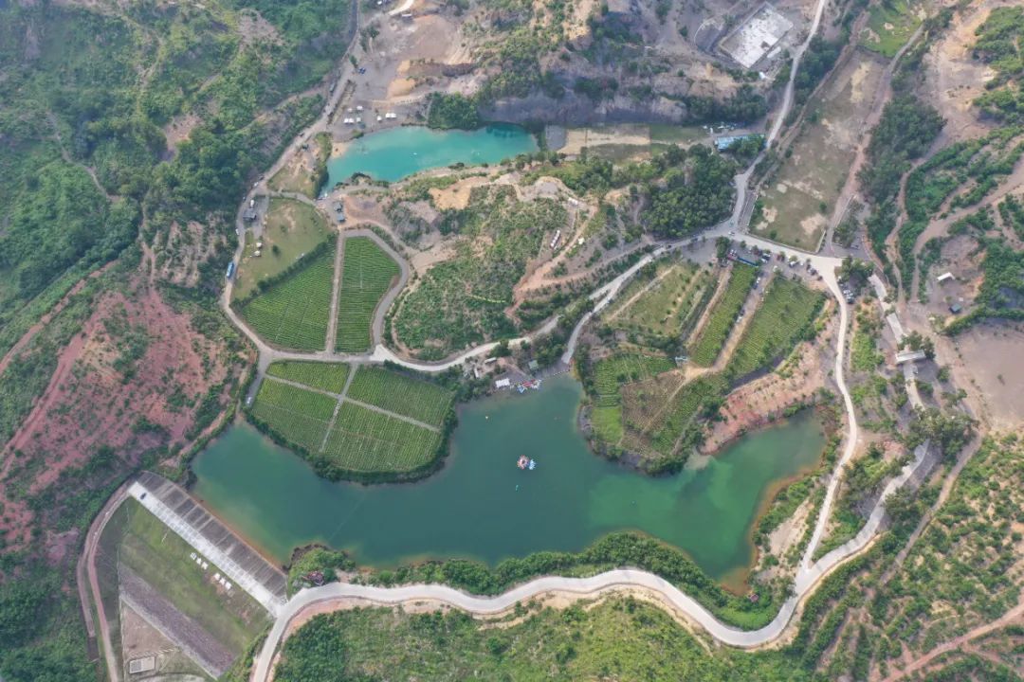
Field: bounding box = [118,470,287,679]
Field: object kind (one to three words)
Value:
dam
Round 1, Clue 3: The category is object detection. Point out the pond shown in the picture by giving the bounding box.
[321,123,537,195]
